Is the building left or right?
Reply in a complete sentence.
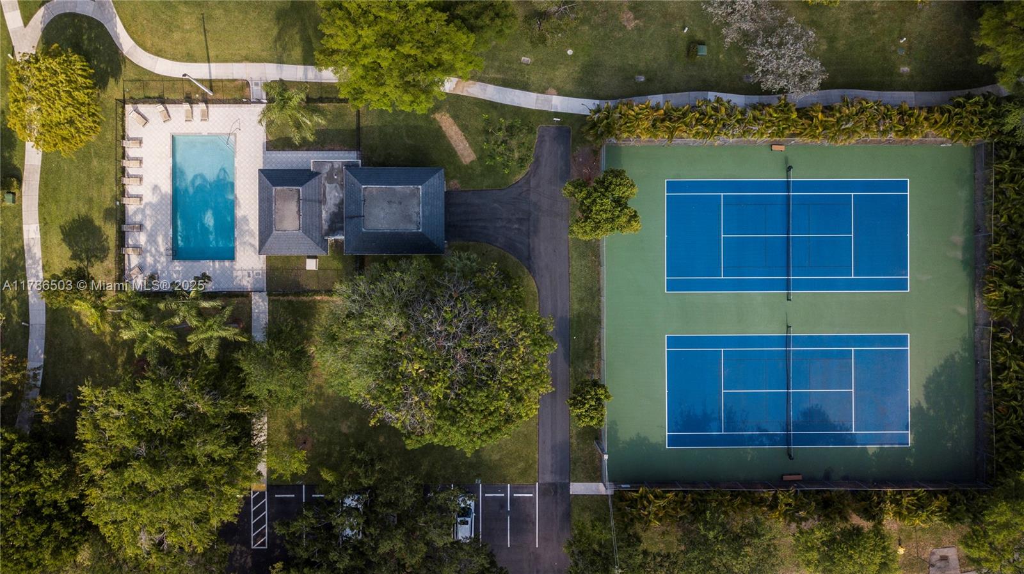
You can find the building on the left side of the picture.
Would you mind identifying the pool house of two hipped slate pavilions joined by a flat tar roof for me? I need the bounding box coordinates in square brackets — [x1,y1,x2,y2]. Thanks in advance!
[258,159,448,255]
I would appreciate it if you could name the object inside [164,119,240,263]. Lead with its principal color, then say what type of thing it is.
blue swimming pool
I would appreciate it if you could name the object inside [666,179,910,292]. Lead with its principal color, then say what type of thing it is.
blue tennis court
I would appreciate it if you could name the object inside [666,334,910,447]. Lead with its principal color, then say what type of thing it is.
blue tennis court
